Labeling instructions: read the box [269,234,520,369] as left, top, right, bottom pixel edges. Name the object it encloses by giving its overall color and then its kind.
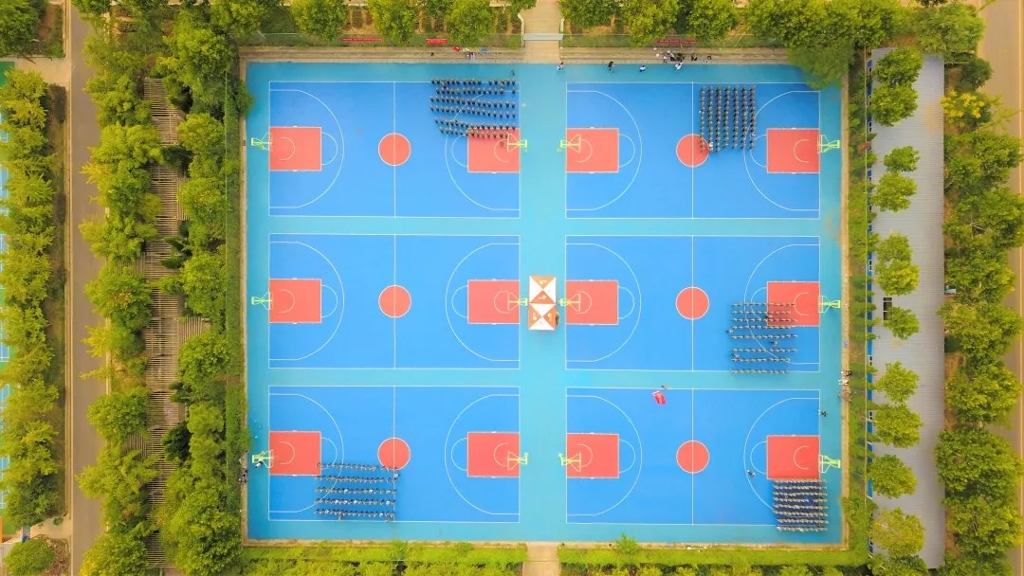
blue basketball court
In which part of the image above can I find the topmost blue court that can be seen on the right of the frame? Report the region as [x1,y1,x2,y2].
[566,82,820,219]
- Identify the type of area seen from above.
sports ground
